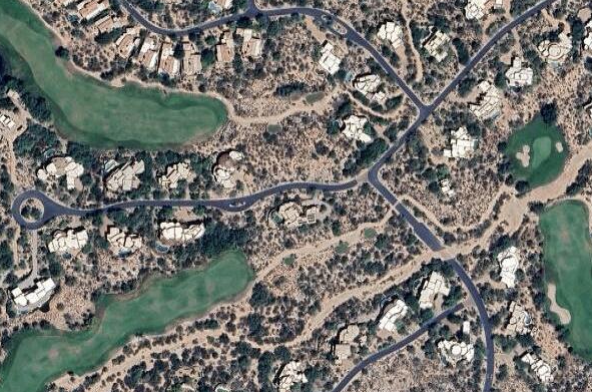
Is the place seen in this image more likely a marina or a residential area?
residential area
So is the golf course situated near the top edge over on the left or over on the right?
left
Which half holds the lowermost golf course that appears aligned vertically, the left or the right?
right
